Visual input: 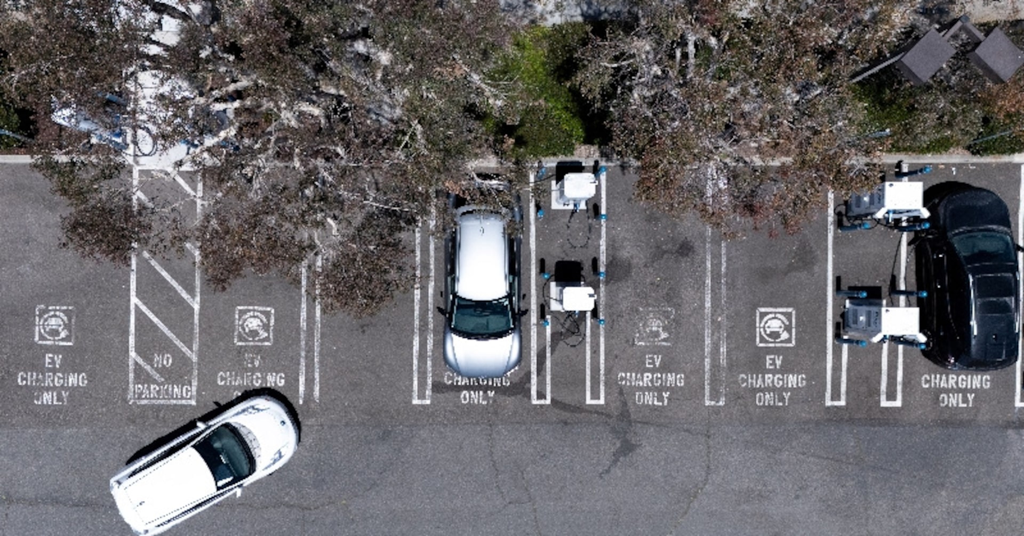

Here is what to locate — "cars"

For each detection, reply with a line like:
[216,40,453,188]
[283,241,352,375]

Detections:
[915,185,1024,372]
[112,393,297,535]
[431,182,532,380]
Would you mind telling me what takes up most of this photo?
paved ground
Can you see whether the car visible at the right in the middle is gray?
No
